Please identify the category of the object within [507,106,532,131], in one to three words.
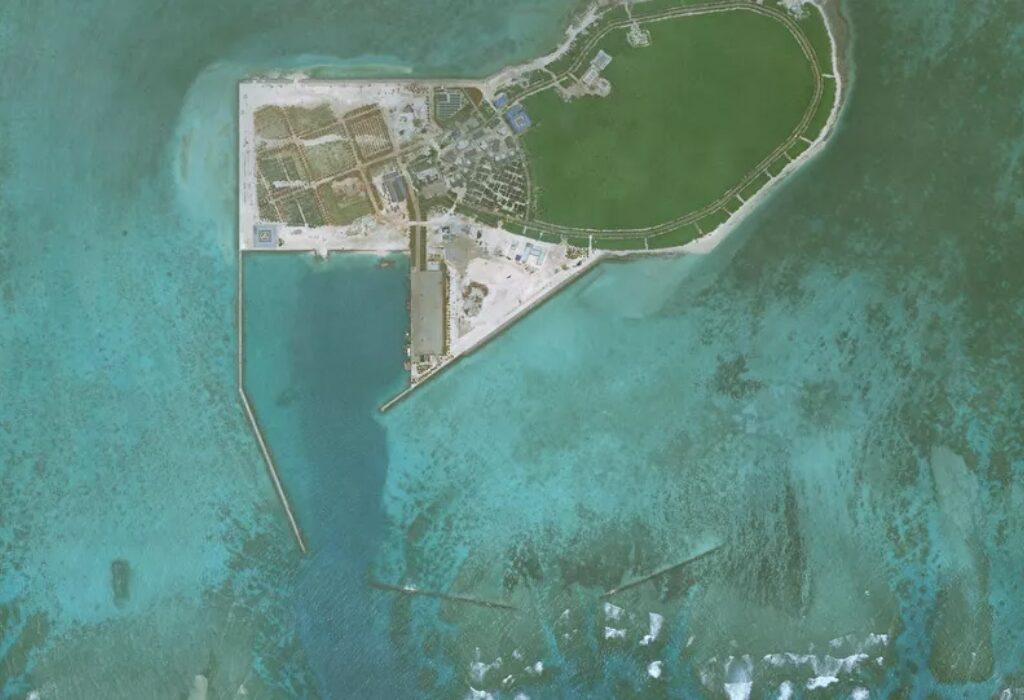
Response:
house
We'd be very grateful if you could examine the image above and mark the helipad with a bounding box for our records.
[253,224,277,247]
